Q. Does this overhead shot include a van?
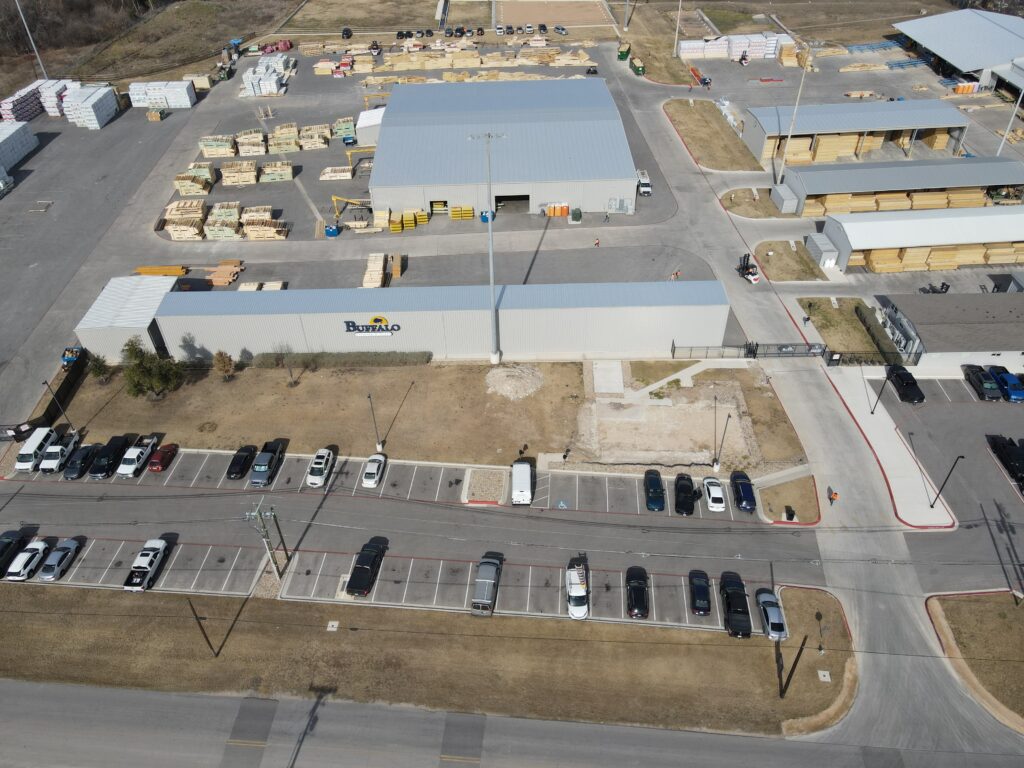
Yes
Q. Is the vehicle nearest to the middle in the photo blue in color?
No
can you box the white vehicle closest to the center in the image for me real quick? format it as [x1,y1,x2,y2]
[511,460,535,505]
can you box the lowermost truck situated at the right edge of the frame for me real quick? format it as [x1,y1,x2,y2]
[993,442,1024,488]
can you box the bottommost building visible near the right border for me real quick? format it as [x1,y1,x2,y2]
[883,293,1024,370]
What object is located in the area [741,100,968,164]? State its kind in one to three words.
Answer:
shed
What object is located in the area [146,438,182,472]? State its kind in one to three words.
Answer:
car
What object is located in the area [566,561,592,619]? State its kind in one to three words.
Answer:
vehicle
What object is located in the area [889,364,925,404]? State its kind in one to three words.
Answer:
truck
